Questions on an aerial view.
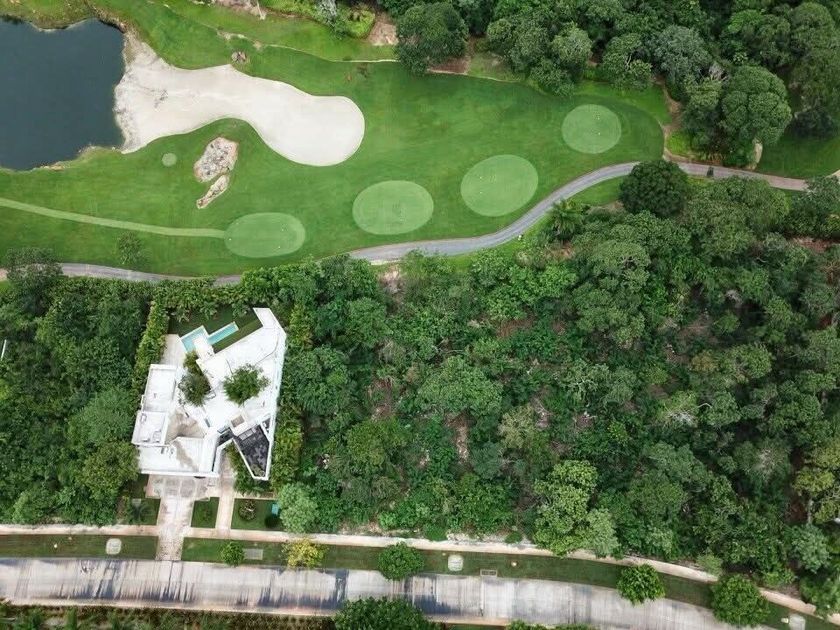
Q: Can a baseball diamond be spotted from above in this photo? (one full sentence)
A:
No, the photo shows no baseball diamond.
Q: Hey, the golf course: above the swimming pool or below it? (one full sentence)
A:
The golf course is above the swimming pool.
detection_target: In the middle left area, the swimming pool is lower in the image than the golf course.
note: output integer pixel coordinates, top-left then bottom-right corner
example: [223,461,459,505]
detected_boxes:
[180,322,238,357]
